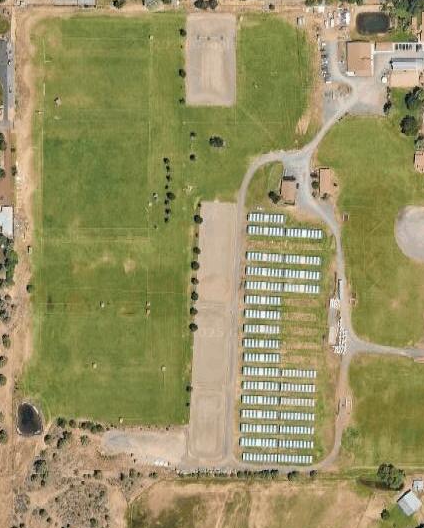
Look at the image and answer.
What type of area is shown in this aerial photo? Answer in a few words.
sports ground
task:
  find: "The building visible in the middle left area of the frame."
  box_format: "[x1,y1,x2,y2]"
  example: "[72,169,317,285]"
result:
[0,206,13,238]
